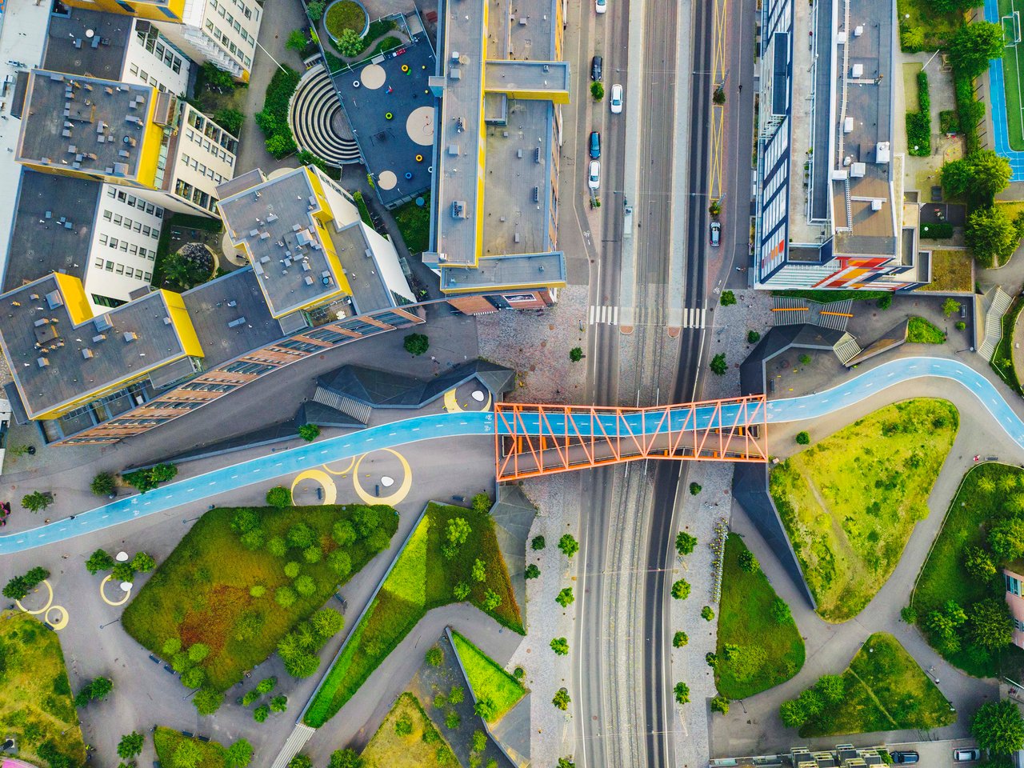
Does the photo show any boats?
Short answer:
No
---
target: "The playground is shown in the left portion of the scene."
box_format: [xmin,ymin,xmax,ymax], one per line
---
[333,35,434,209]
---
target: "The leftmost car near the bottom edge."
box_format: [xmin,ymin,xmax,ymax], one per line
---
[887,748,922,766]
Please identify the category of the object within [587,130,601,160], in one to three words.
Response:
car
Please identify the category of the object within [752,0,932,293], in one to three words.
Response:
building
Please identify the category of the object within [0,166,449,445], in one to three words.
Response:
building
